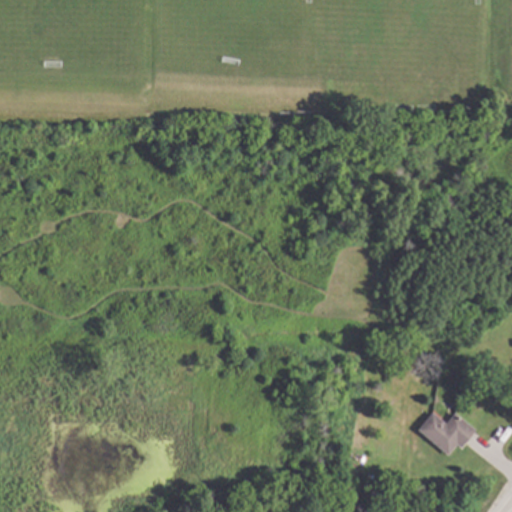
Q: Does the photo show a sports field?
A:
Yes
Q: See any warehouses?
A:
No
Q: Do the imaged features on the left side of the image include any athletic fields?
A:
Yes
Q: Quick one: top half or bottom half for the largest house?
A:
bottom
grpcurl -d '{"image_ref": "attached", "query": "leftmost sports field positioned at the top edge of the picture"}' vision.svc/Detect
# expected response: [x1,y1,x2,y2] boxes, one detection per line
[0,0,151,120]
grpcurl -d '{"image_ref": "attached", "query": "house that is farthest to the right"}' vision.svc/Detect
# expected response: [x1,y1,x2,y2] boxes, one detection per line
[420,413,476,456]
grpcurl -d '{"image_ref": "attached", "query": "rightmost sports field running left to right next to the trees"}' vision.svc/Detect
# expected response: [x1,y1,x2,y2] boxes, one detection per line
[151,0,488,116]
